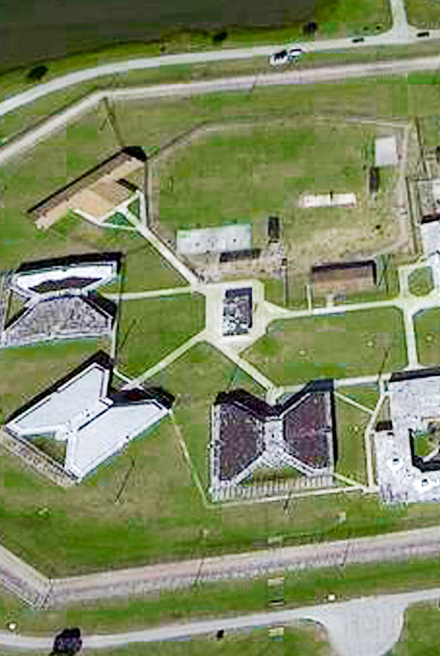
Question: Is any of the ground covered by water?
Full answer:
No, the picture contains no water.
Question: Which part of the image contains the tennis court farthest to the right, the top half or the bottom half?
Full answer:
Seen from above, the tennis court farthest to the right lies in the top half of the view.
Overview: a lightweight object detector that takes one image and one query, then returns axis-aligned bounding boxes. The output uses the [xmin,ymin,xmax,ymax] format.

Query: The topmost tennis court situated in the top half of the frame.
[376,137,397,165]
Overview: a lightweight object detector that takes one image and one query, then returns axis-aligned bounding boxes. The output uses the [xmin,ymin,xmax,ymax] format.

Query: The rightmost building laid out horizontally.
[314,264,376,294]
